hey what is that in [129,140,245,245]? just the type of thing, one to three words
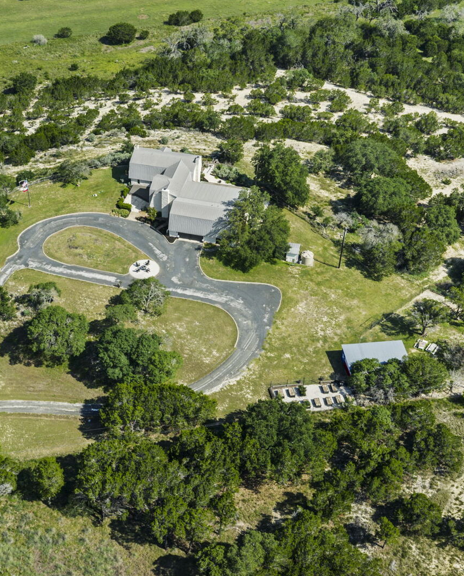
house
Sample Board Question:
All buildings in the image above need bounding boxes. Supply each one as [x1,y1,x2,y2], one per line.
[286,242,300,263]
[340,339,412,380]
[129,140,245,245]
